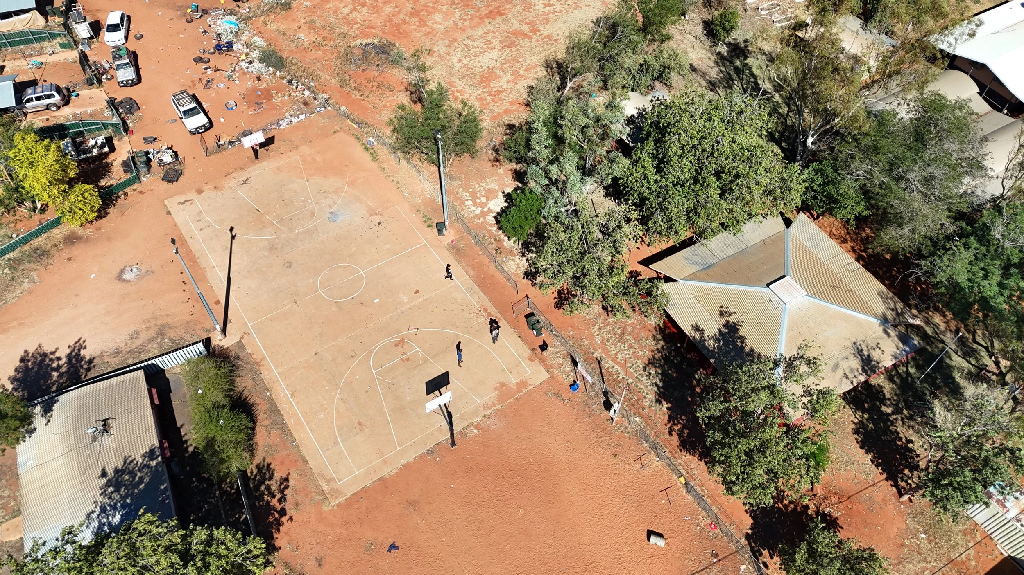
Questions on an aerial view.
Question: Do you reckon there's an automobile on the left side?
Yes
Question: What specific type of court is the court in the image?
basketball court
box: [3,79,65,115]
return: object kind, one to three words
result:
car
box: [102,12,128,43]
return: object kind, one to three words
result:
car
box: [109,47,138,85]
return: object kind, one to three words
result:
truck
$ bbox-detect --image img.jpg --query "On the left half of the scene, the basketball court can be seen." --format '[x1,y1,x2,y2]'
[165,132,553,505]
